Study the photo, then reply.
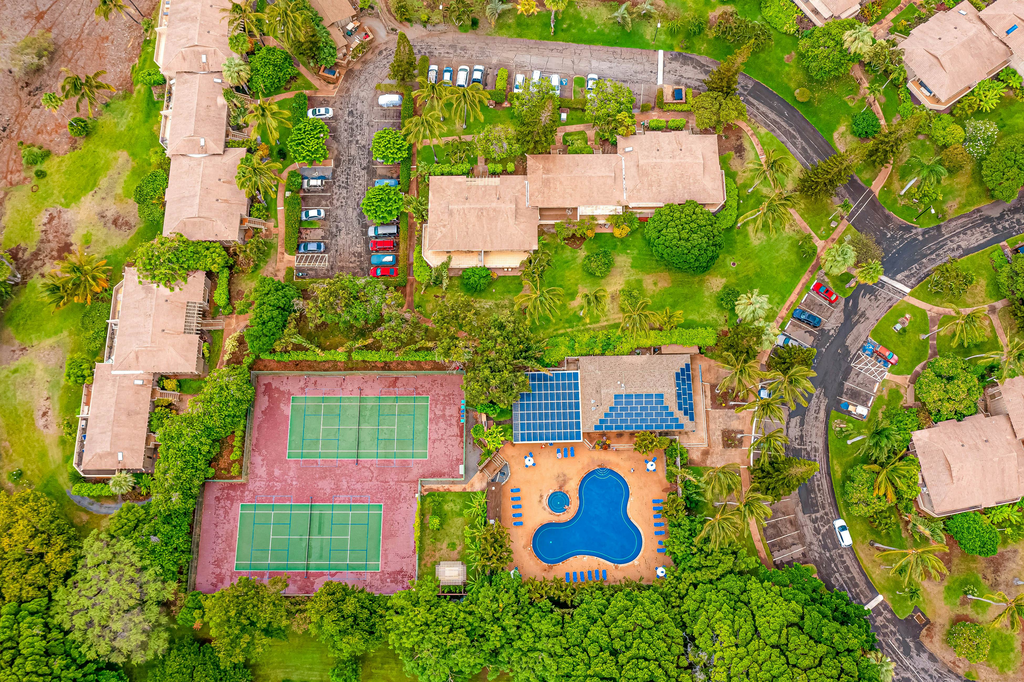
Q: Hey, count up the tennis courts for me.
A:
2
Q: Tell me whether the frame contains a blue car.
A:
Yes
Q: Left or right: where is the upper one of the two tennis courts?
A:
left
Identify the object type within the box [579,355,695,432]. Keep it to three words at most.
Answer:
building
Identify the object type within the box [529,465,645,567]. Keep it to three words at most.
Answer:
swimming pool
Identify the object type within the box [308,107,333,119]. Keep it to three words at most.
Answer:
vehicle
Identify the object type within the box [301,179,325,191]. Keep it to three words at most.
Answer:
vehicle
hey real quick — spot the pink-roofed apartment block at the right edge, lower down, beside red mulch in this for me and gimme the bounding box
[903,372,1024,517]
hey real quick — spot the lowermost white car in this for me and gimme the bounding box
[833,517,852,549]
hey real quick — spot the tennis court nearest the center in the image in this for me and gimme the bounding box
[287,388,429,467]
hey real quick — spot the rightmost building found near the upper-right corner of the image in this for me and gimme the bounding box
[888,0,1024,120]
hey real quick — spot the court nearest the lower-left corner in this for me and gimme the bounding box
[235,496,383,580]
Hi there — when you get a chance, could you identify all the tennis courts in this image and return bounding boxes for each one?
[287,388,429,467]
[235,496,383,580]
